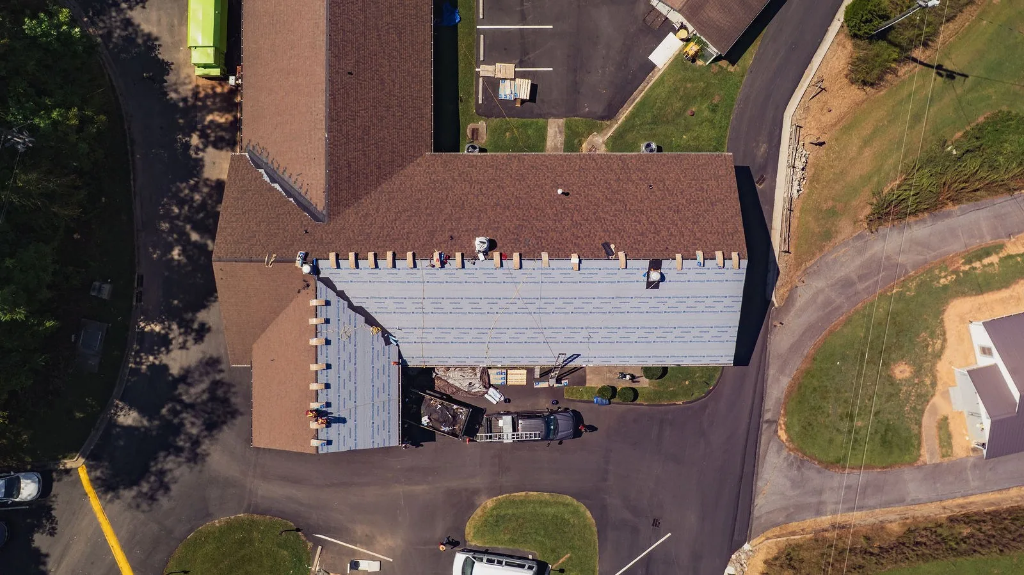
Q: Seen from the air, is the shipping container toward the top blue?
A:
No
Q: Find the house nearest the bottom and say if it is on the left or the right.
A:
right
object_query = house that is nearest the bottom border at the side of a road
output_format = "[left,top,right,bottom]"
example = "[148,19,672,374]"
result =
[939,308,1024,465]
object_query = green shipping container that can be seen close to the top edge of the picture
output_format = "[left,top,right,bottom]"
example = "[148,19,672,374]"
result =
[188,0,232,79]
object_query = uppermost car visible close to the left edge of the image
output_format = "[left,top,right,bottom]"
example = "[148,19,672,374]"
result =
[0,471,43,506]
